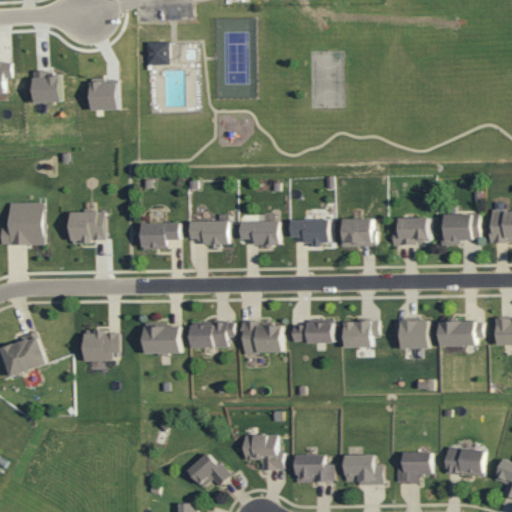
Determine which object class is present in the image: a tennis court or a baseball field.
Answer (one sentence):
Visible in the photo is a tennis court.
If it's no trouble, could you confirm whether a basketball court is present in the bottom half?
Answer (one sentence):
No, there is no basketball court in the bottom half.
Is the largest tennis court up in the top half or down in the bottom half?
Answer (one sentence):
You can find the largest tennis court in the top half.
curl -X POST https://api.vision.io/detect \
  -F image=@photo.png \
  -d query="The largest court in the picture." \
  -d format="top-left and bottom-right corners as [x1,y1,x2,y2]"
[216,18,258,100]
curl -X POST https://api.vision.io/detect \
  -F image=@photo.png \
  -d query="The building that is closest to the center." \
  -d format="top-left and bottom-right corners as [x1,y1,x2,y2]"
[238,222,282,247]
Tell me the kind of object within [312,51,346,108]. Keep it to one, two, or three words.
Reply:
basketball court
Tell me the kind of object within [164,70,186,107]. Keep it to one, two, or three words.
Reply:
swimming pool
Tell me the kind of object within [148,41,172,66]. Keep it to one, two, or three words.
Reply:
building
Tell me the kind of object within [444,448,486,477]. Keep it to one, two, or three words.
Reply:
house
